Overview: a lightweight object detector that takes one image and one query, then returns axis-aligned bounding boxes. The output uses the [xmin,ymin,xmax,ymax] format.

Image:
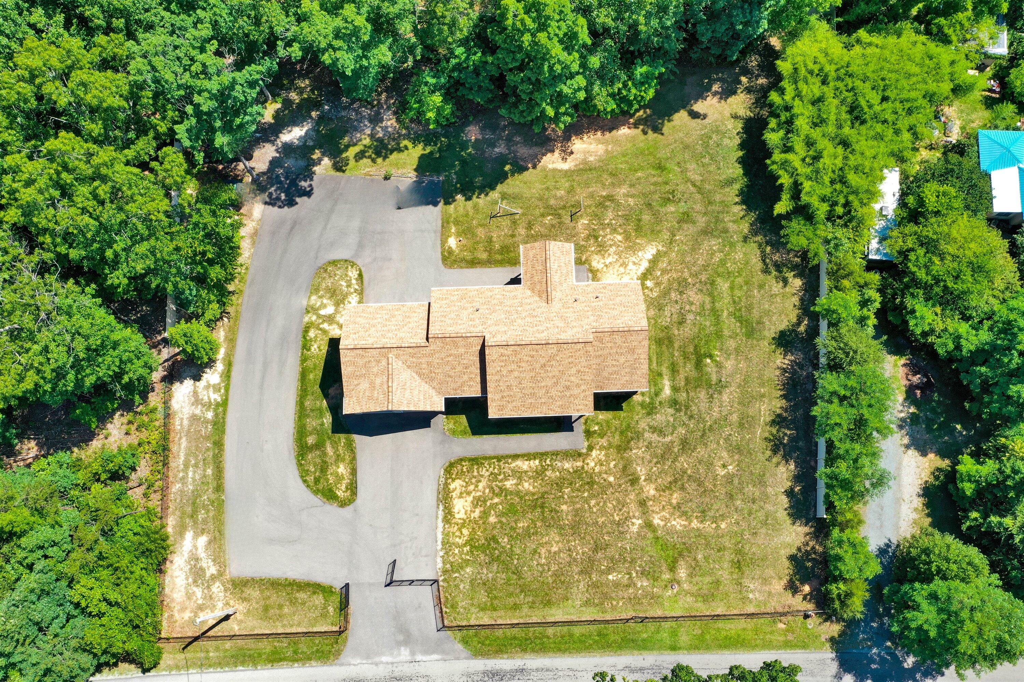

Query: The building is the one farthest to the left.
[337,240,648,419]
